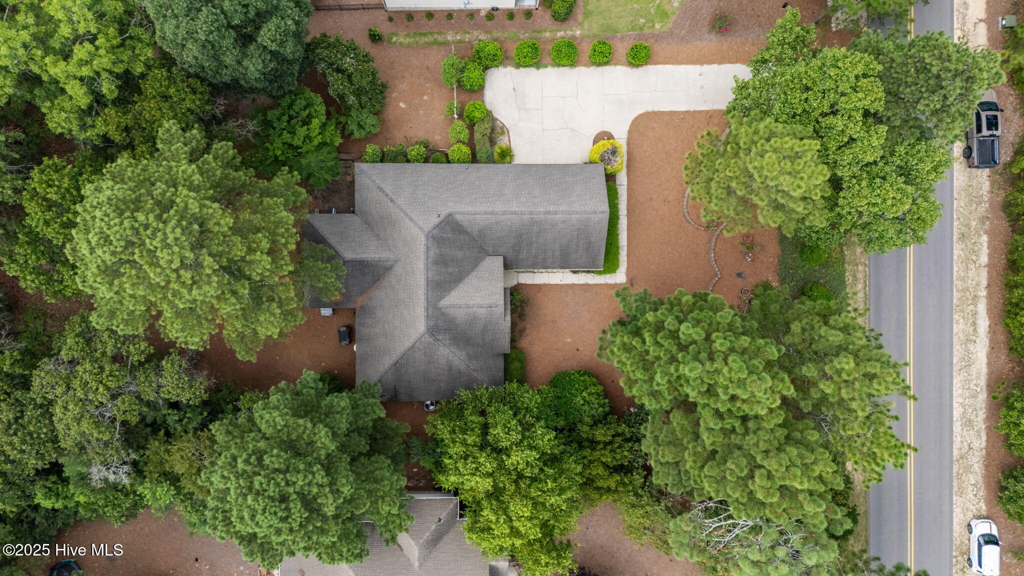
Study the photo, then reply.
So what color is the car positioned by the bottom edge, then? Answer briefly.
white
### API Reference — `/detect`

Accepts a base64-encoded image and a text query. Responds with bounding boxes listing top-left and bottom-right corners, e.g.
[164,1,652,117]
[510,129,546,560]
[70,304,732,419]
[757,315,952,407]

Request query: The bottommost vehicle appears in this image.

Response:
[965,518,1001,576]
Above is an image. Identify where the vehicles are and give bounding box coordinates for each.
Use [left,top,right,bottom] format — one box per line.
[965,518,1001,576]
[961,88,1002,171]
